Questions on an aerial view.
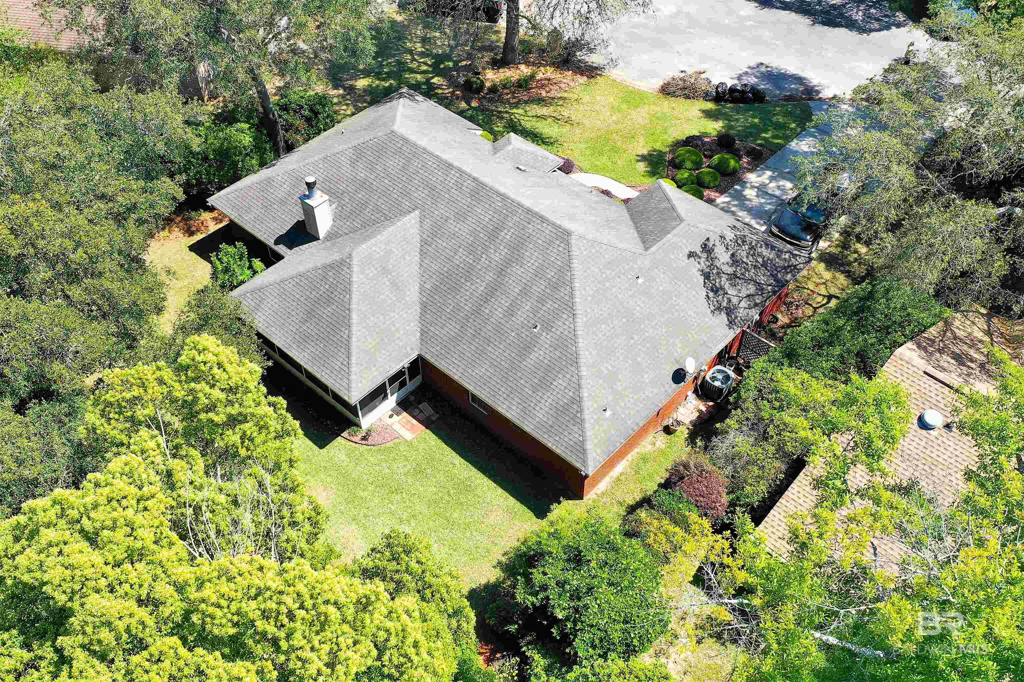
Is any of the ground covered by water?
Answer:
No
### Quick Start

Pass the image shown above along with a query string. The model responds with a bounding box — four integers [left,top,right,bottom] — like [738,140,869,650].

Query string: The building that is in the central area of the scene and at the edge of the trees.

[208,83,814,498]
